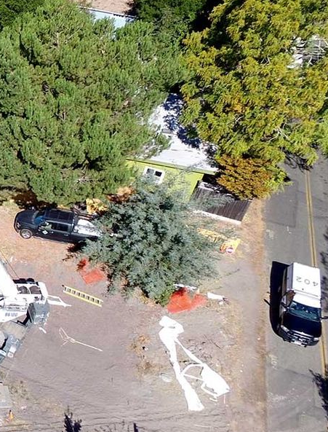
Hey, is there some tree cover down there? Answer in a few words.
Yes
